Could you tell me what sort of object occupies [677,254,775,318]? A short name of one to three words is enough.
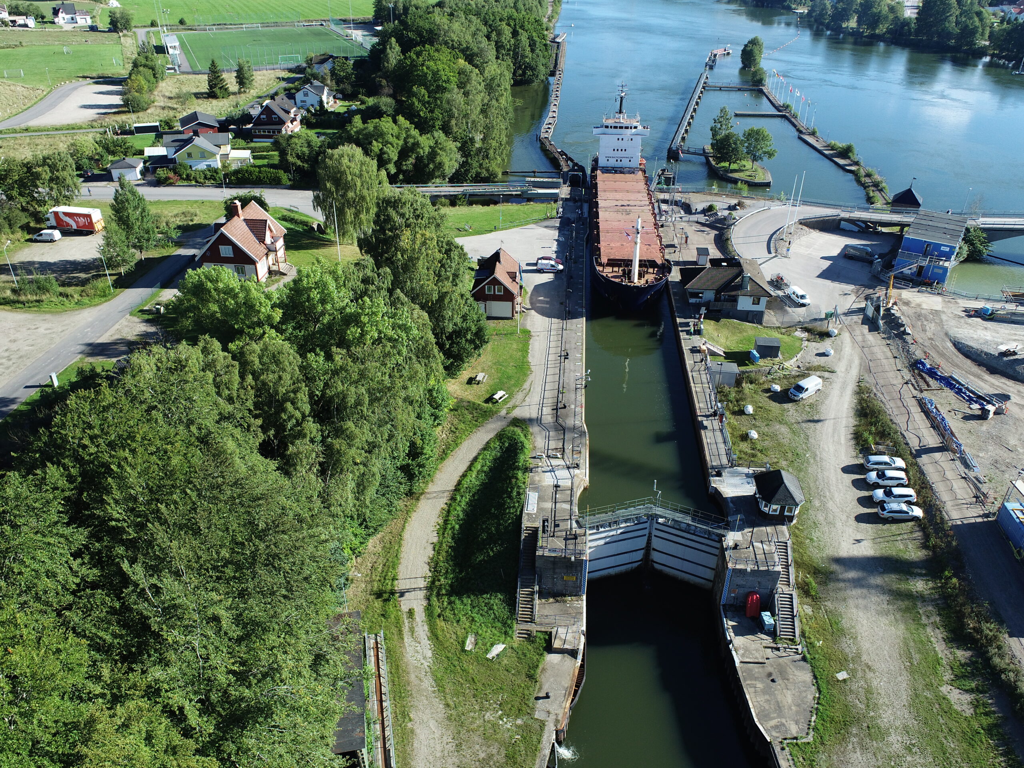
building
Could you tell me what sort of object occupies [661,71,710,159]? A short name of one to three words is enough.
pier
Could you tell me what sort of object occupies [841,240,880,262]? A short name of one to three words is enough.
vehicle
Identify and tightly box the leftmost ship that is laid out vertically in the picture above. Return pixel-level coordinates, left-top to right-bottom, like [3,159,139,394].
[585,82,675,317]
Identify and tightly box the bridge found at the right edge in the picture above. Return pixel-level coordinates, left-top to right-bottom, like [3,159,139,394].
[731,201,1024,256]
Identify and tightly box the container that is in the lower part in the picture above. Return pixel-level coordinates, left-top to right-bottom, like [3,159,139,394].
[996,499,1024,558]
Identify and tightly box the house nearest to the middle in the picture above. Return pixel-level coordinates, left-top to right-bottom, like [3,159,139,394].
[475,242,532,320]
